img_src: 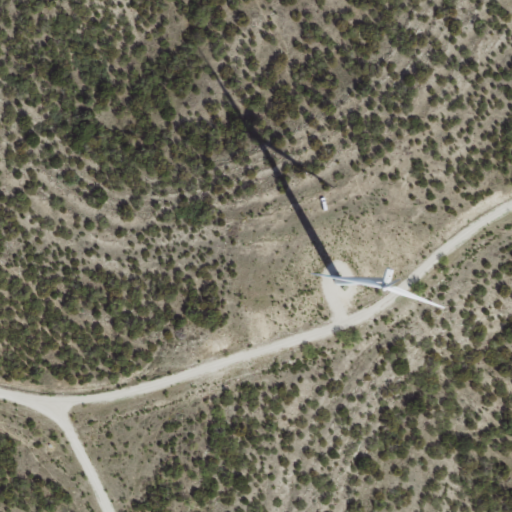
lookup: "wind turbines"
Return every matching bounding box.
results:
[314,268,441,309]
